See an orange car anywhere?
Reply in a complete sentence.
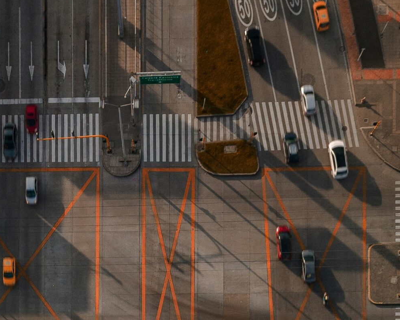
Yes, the image includes an orange car.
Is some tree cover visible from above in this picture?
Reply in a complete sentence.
No, tree cover can't be seen anywhere here.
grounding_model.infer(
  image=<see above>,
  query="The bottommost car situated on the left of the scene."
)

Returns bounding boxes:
[1,256,17,287]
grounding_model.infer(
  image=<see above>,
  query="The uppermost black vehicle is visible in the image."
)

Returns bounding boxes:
[244,26,265,69]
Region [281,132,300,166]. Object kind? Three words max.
car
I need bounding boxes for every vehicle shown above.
[299,250,316,285]
[23,177,39,206]
[23,104,39,135]
[327,140,349,181]
[1,122,18,162]
[1,256,17,287]
[274,225,292,260]
[244,26,265,69]
[281,132,300,166]
[298,85,316,118]
[310,1,329,34]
